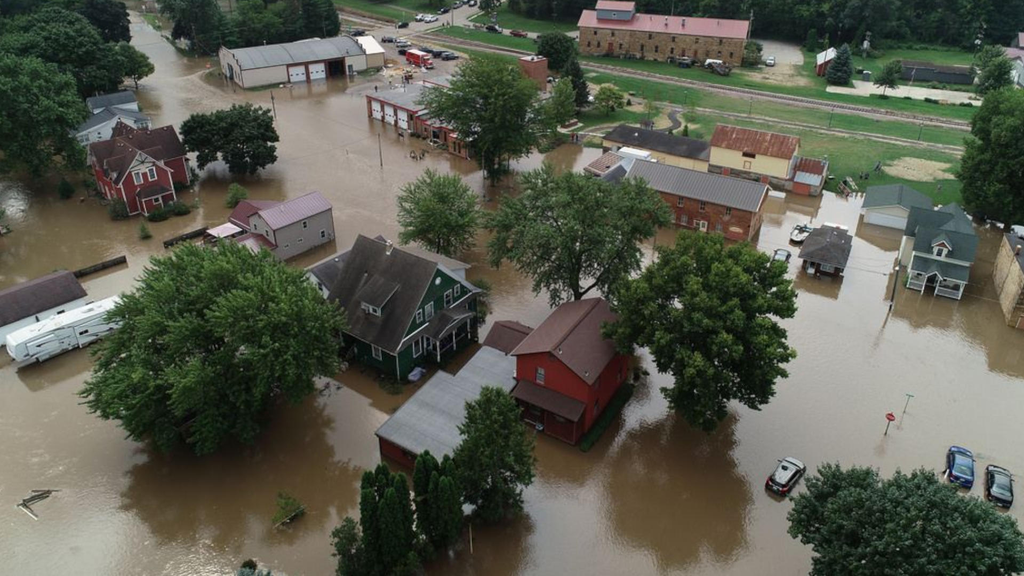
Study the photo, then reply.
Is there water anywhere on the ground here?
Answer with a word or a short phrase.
Yes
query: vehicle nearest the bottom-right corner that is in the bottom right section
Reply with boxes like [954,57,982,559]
[984,470,1012,512]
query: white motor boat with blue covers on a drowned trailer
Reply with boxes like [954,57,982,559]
[791,220,814,246]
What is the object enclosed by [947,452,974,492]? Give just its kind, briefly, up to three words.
car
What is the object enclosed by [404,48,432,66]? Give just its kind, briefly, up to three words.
vehicle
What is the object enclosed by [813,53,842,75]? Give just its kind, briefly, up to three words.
shed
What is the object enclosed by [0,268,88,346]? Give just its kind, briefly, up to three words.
building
